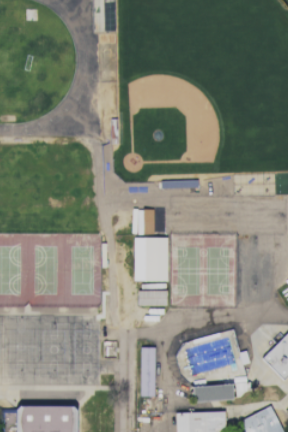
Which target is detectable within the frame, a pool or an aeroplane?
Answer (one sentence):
Of the two, only a pool appears.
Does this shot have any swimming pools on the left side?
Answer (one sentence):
No, no swimming pool is visible on the left side.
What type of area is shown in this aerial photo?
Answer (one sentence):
This looks like a sports ground.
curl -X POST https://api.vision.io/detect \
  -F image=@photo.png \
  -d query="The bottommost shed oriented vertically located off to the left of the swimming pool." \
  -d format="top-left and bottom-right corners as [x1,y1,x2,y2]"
[141,348,156,398]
